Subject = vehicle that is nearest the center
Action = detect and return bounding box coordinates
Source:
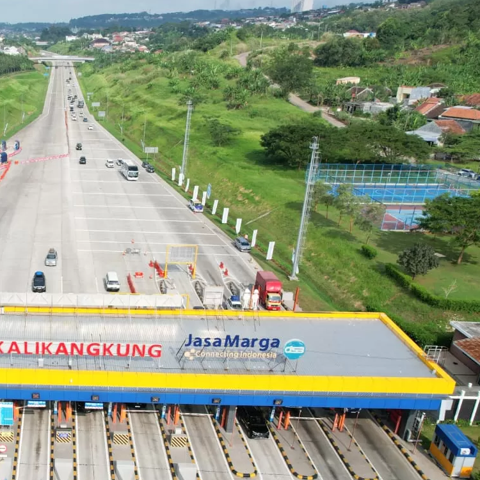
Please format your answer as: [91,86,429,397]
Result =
[228,234,253,250]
